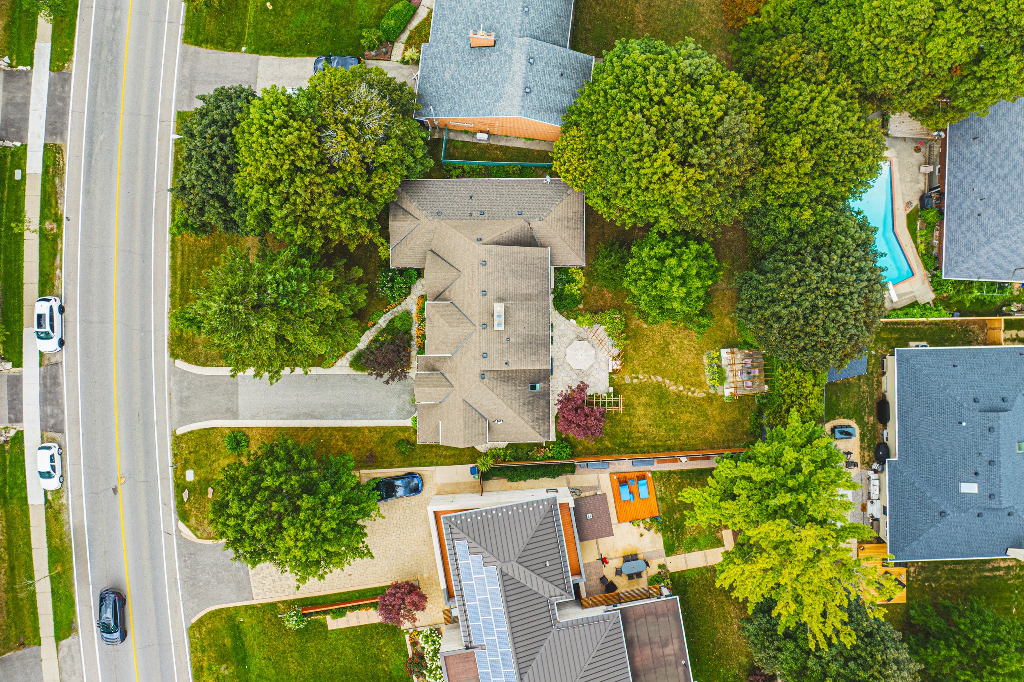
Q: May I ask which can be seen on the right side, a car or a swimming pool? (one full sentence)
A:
There is a swimming pool on the right side.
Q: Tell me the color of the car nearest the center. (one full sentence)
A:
In this view, the car nearest the center is blue.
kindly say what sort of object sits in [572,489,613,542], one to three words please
building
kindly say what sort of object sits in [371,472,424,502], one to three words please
car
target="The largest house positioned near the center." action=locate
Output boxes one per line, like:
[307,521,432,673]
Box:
[389,172,586,448]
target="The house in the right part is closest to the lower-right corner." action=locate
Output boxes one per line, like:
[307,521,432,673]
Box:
[879,345,1024,562]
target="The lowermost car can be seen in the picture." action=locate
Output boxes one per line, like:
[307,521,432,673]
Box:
[98,588,131,644]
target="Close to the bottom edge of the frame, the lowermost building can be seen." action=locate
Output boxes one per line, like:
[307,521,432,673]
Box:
[427,477,693,682]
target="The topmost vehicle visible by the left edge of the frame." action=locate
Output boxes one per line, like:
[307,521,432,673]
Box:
[35,296,68,352]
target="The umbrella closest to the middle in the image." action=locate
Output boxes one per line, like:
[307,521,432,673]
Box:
[566,341,595,370]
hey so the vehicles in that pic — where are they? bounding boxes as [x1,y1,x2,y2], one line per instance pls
[35,296,68,352]
[371,472,424,502]
[98,588,131,644]
[37,442,68,490]
[314,53,364,79]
